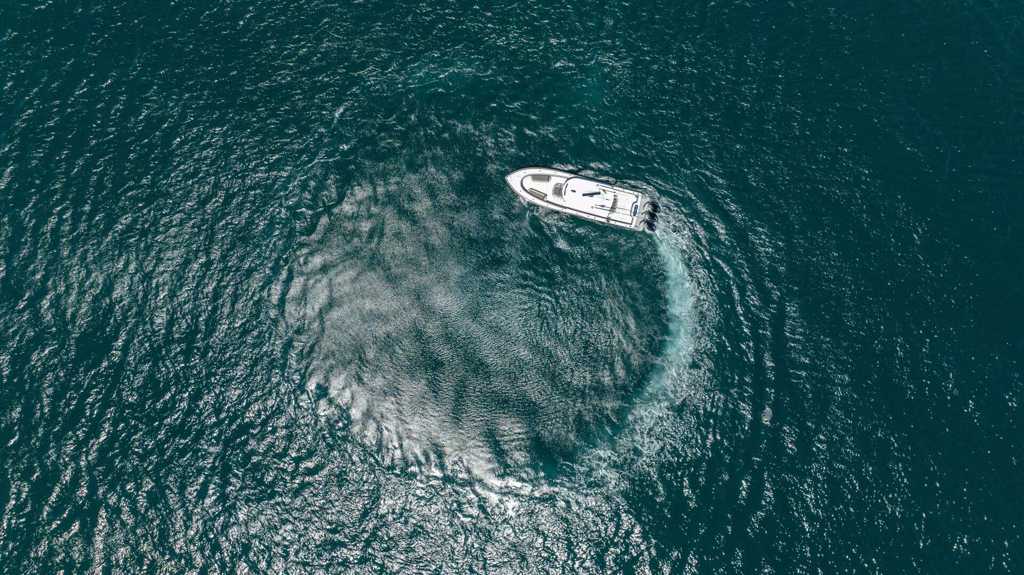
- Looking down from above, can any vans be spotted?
No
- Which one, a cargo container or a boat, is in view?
boat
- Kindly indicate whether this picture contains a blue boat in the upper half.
No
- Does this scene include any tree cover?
No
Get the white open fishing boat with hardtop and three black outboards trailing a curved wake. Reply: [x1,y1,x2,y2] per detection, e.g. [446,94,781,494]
[504,166,660,231]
